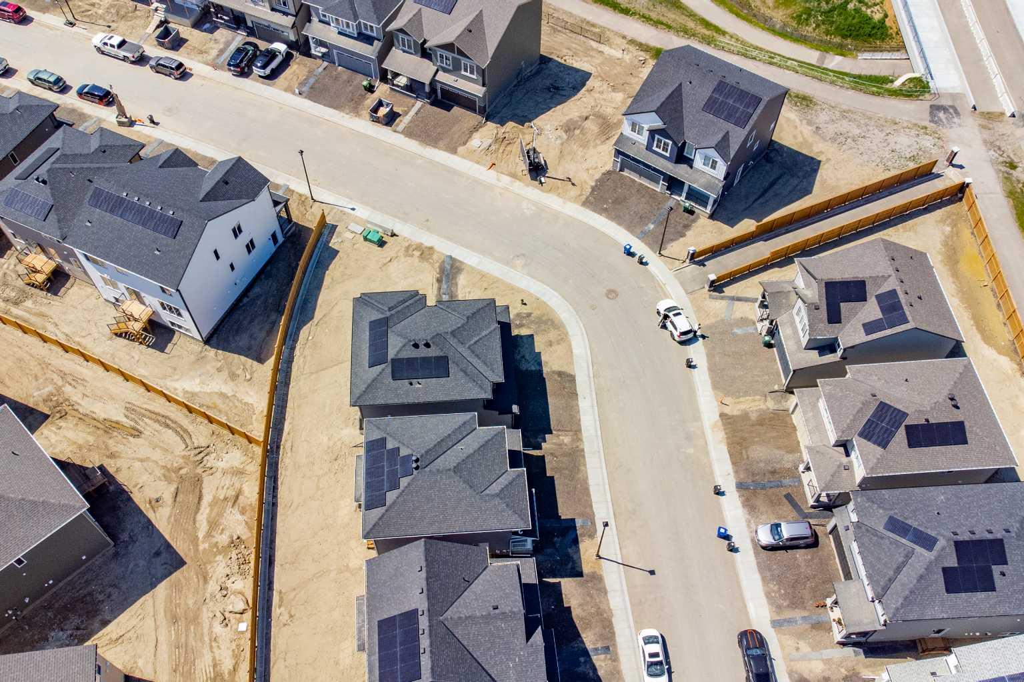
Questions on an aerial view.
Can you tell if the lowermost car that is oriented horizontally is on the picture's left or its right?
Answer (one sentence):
The lowermost car that is oriented horizontally sits on the right side.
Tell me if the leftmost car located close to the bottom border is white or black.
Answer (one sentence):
From above, the leftmost car located close to the bottom border appears white.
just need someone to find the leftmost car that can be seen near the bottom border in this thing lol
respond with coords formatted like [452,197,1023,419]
[637,629,669,682]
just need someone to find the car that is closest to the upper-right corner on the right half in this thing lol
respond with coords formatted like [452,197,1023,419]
[657,300,698,346]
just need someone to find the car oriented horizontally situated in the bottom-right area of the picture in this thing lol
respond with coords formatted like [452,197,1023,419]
[754,519,818,550]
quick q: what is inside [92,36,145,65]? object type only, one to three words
truck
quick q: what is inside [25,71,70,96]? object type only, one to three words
car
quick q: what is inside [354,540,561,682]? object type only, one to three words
house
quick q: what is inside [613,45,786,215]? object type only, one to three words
house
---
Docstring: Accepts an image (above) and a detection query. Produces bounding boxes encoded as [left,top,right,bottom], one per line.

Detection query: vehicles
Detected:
[657,300,698,346]
[226,43,260,75]
[0,0,25,22]
[92,36,145,65]
[637,629,669,682]
[147,55,190,81]
[252,43,291,79]
[754,519,818,550]
[0,55,12,74]
[74,84,113,110]
[25,71,70,96]
[739,629,777,682]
